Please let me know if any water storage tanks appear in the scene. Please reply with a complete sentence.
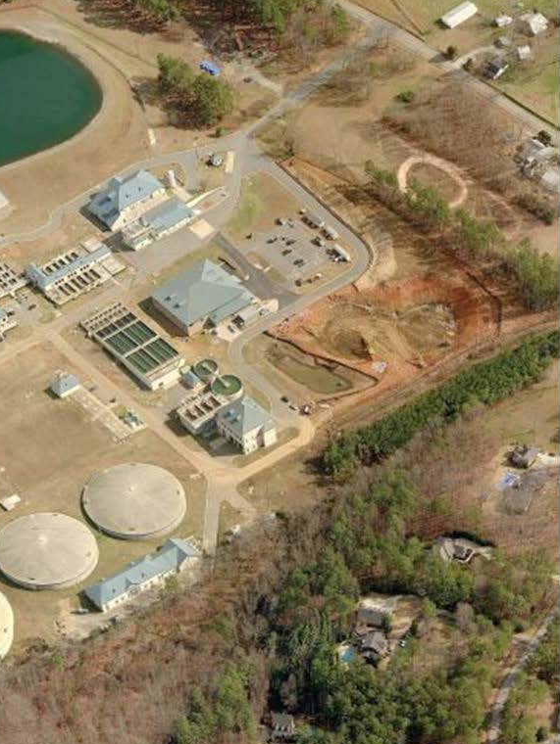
Yes, there's a water storage tank down there.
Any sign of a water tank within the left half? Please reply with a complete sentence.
Yes, I can see a water tank within the left half.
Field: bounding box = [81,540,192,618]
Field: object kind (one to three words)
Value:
building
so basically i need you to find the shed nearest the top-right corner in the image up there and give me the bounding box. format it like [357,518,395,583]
[513,14,550,36]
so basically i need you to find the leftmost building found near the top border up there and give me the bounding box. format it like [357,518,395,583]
[439,5,477,29]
